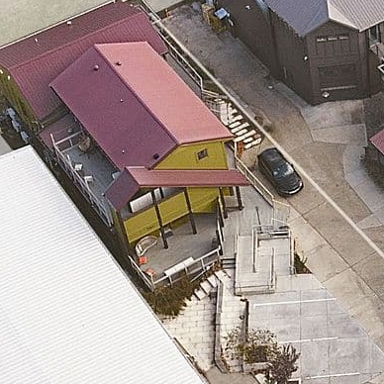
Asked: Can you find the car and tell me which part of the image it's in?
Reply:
right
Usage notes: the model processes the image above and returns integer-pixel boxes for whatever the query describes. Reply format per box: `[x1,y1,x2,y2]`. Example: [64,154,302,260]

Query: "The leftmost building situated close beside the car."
[0,0,252,286]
